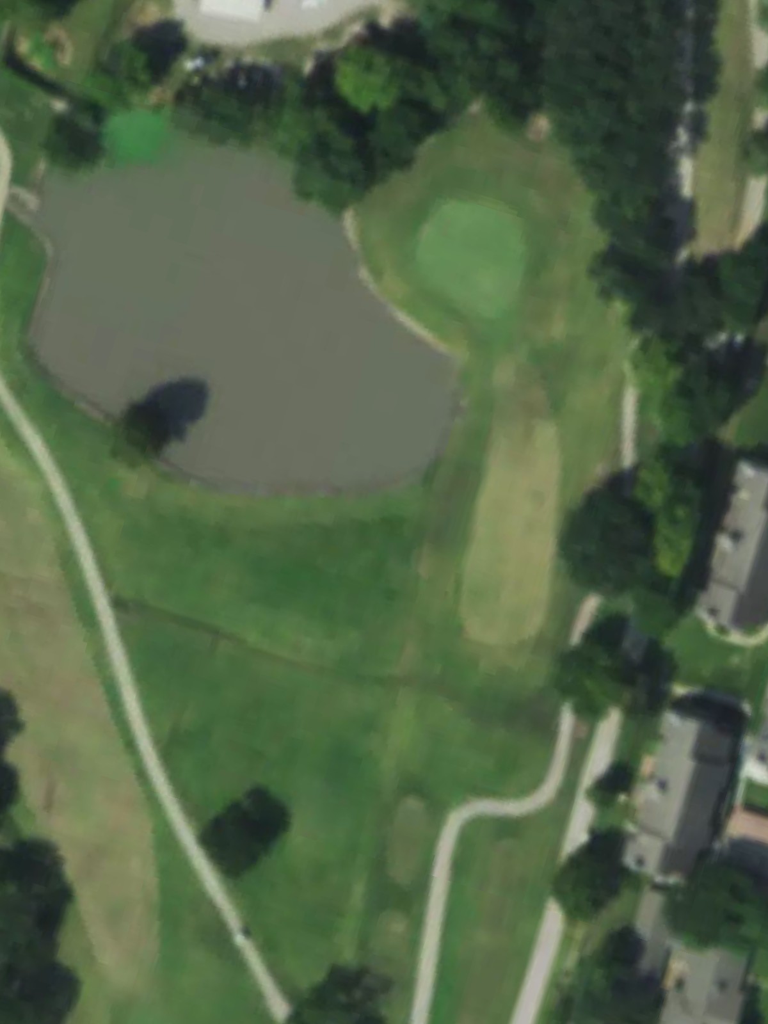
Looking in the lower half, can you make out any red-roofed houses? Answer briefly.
No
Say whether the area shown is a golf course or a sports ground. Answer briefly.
golf course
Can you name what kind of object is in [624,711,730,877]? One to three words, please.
house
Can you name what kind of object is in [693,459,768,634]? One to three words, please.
house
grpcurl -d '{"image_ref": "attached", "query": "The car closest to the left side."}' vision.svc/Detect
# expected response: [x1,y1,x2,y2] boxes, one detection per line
[182,53,204,70]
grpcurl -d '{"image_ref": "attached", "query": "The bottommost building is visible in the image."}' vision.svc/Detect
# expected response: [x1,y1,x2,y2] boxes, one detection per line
[653,935,748,1024]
